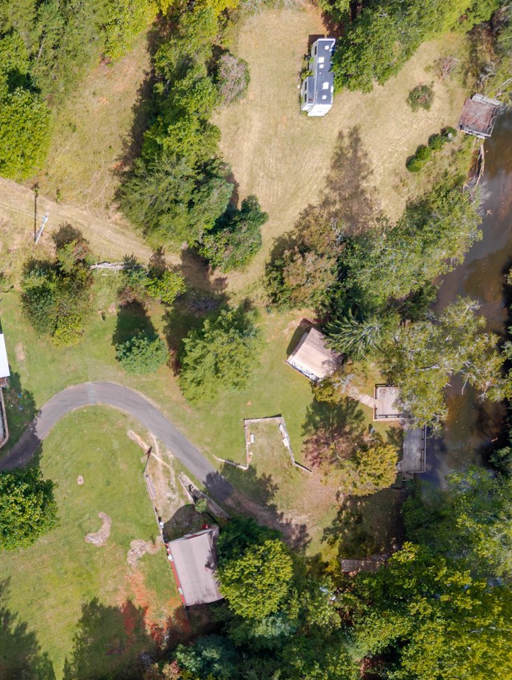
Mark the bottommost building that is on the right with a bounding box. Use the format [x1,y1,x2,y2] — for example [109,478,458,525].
[283,327,339,387]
